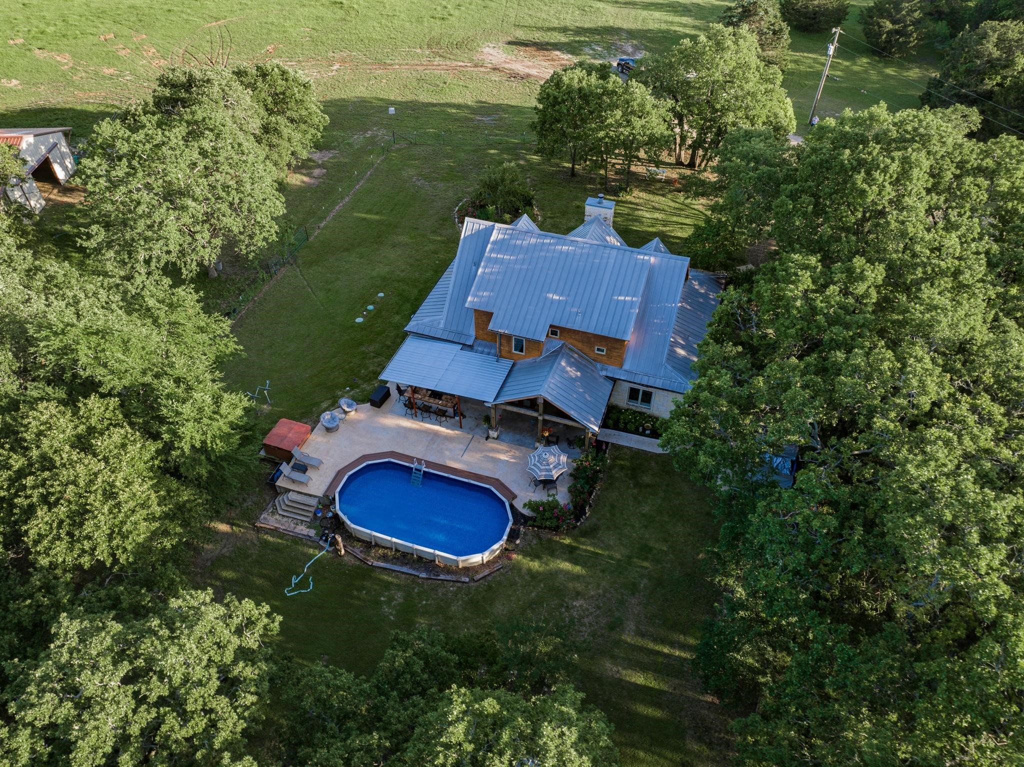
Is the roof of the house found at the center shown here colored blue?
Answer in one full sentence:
Yes, the roof of the house found at the center appears blue.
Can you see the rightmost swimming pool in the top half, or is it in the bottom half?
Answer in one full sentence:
It is in the bottom half that the rightmost swimming pool appears.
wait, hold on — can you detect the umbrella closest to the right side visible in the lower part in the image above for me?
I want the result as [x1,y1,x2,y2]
[524,445,569,486]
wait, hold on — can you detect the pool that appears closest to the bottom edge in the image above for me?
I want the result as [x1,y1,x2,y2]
[329,459,514,569]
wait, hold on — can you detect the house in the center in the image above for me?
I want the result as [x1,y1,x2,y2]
[402,195,725,458]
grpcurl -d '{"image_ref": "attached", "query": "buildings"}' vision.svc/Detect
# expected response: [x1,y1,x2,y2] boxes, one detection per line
[0,129,79,217]
[402,195,725,458]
